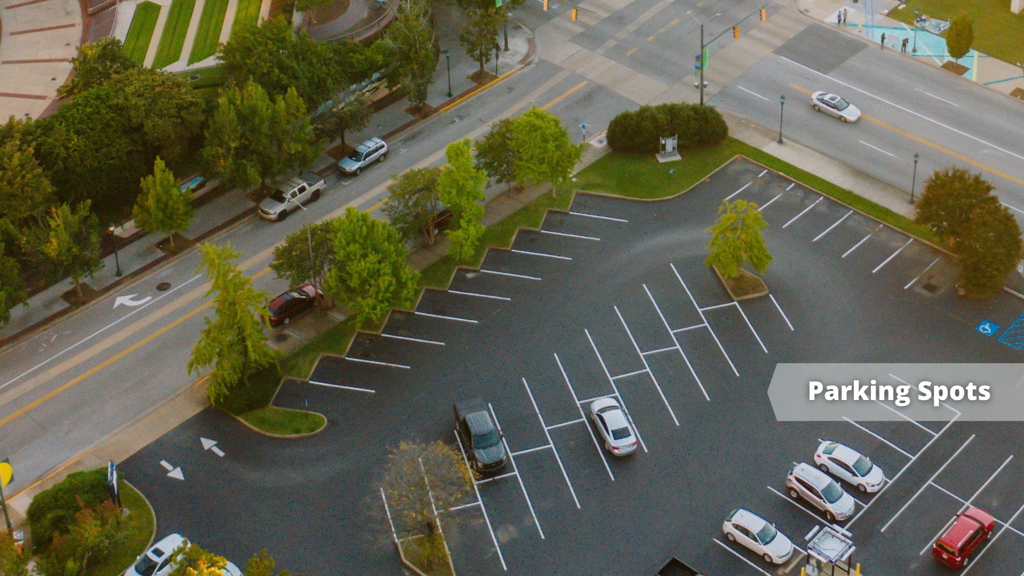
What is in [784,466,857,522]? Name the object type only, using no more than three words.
car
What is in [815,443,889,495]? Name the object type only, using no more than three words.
car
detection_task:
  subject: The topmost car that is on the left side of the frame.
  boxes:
[336,136,390,177]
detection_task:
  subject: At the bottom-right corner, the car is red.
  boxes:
[935,506,1000,568]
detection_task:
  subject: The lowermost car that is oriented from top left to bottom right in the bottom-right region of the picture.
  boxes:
[723,510,793,565]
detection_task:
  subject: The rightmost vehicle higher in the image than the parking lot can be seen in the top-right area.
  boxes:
[807,91,864,124]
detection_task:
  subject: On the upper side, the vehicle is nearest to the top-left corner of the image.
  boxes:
[255,174,326,222]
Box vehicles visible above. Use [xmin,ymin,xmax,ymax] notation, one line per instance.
[935,506,1000,568]
[260,286,325,326]
[807,91,864,124]
[589,400,634,454]
[784,466,857,522]
[455,399,506,470]
[117,536,190,576]
[815,443,889,495]
[255,174,326,222]
[723,510,793,565]
[336,136,390,177]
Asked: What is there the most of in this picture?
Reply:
paved ground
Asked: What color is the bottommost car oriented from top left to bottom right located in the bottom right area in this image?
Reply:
white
